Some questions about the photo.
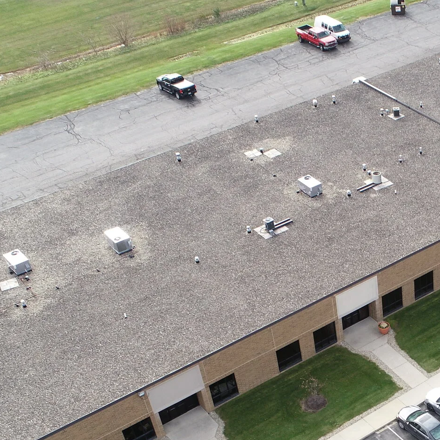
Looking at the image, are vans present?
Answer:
Yes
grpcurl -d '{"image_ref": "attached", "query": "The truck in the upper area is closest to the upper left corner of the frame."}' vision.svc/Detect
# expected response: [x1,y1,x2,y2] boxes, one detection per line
[154,73,200,101]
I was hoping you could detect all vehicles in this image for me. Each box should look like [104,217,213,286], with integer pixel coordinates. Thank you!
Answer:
[395,407,440,440]
[154,73,200,101]
[311,11,353,40]
[426,390,440,415]
[293,25,339,51]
